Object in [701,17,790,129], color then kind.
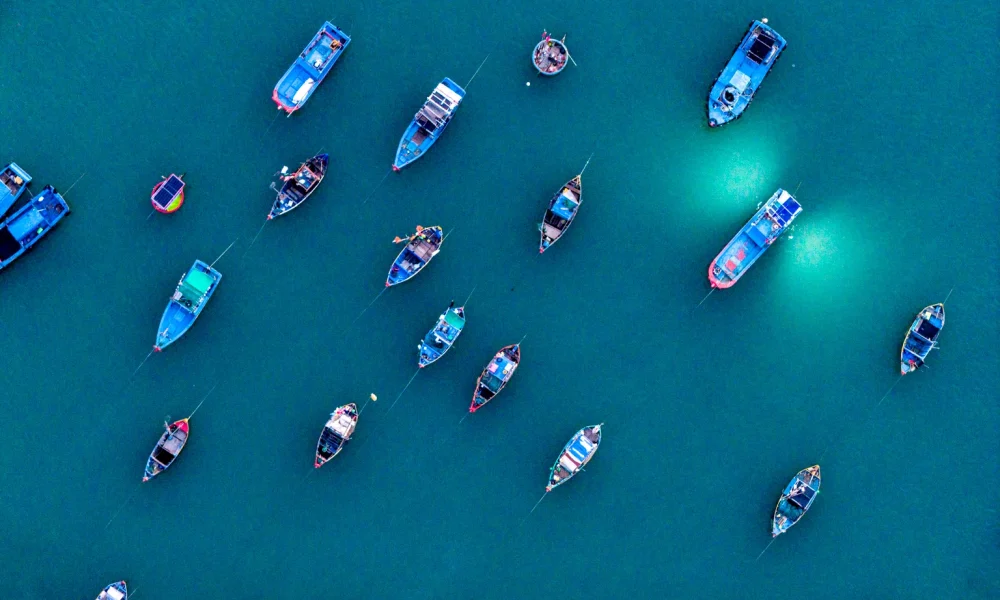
blue boat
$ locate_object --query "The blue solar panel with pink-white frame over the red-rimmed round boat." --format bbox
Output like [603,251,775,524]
[151,174,188,209]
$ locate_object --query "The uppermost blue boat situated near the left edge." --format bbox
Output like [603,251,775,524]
[0,163,32,222]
